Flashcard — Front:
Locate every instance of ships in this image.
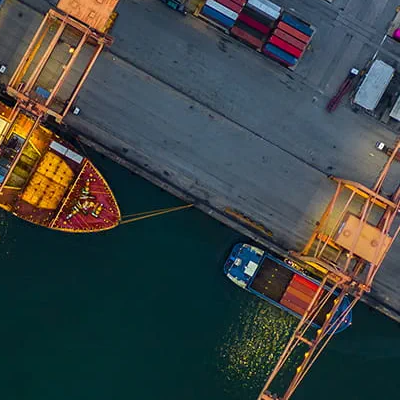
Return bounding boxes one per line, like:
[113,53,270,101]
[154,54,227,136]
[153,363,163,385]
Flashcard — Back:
[0,100,121,231]
[221,240,354,329]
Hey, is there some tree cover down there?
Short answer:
No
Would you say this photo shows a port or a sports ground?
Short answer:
port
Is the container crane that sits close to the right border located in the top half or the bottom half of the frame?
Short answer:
bottom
